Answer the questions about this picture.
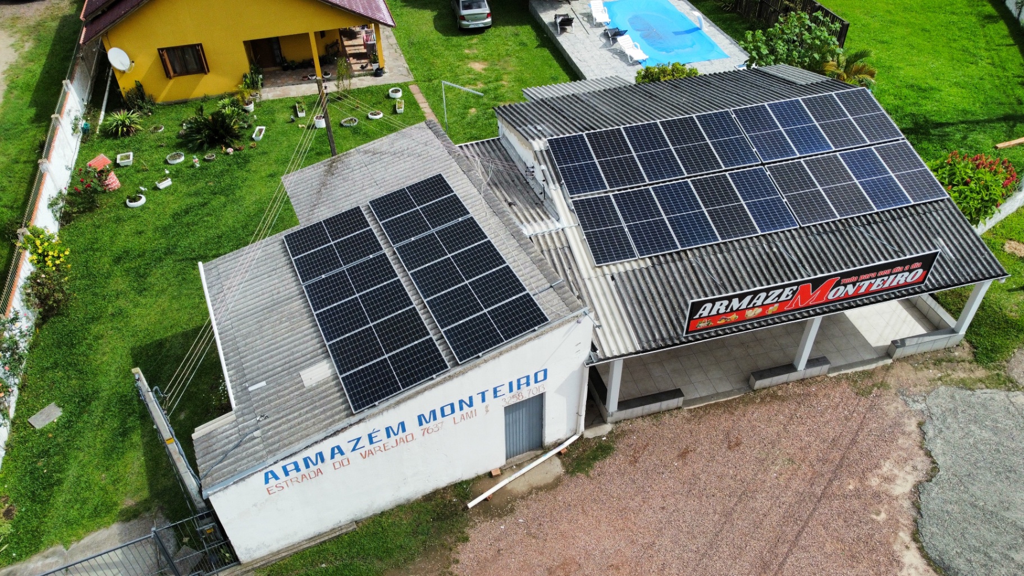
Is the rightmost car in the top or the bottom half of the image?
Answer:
top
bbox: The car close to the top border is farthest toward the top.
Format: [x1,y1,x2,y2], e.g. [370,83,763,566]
[457,0,497,27]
